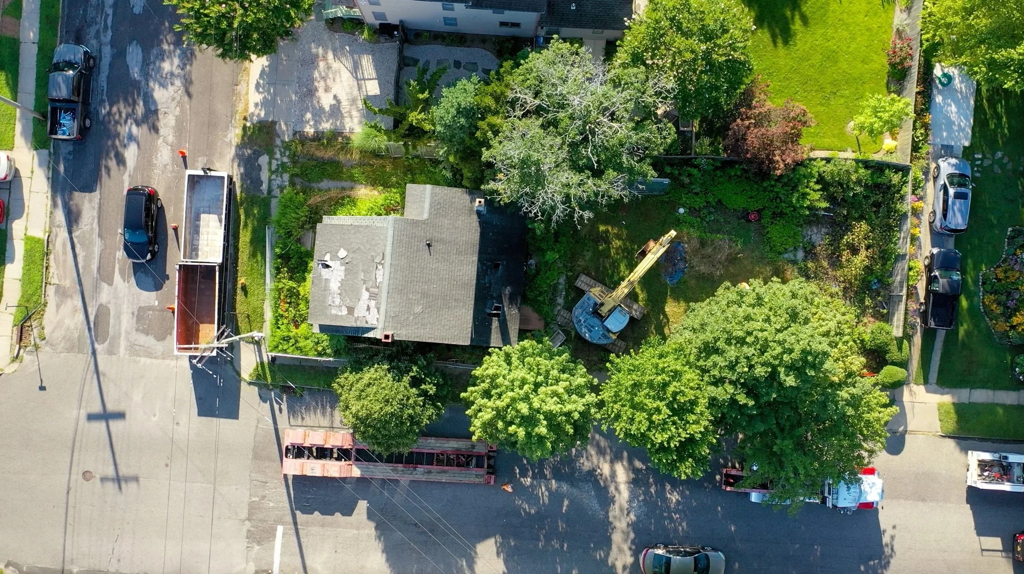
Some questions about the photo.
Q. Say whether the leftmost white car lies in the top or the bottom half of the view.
top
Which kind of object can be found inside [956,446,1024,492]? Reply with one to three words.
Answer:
truck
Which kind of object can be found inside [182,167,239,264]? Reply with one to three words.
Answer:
trailer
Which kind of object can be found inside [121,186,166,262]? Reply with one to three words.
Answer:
car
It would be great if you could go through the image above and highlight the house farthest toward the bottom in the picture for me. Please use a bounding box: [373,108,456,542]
[308,184,544,347]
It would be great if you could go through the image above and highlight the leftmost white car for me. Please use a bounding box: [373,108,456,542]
[0,151,22,183]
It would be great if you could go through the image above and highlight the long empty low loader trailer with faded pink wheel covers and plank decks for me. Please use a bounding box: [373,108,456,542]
[278,427,495,488]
